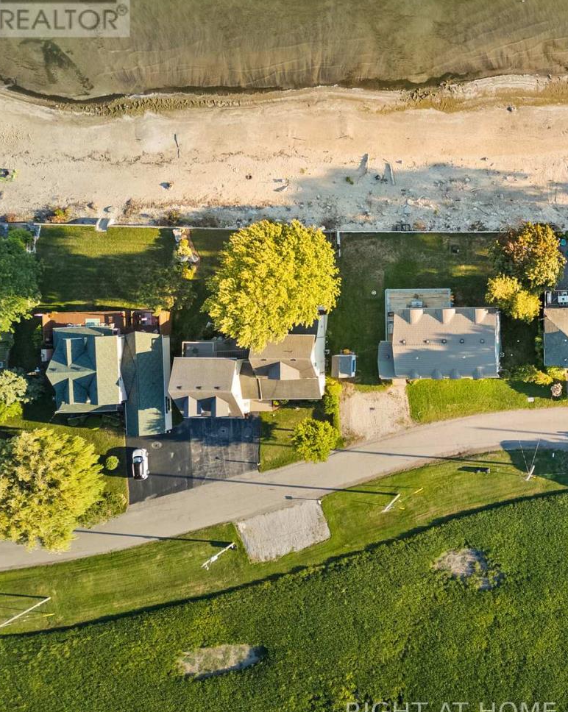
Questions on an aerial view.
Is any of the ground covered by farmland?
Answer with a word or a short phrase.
Yes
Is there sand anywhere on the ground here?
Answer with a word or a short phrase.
Yes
